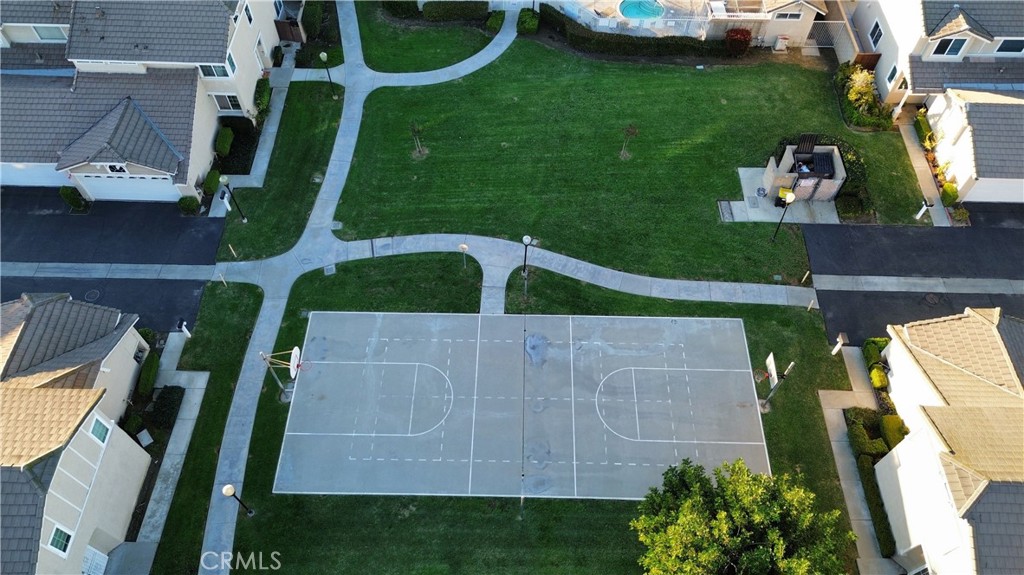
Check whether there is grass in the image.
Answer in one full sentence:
Yes, some grass is visible.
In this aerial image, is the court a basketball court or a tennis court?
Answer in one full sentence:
From above, the court can be identified as a basketball court.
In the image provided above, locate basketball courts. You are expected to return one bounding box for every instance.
[272,311,773,503]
